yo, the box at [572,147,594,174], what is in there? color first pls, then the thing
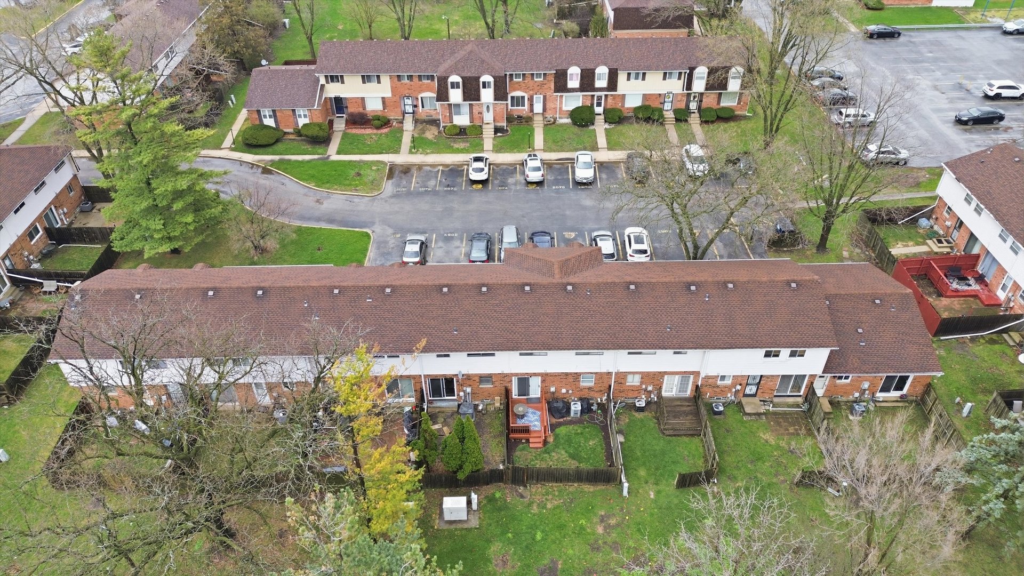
white car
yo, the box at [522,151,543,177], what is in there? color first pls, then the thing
white car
